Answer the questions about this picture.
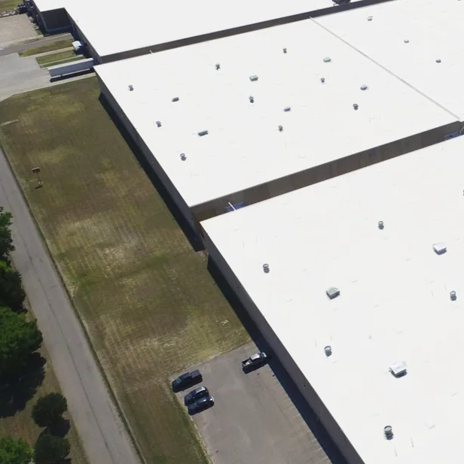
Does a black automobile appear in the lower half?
Yes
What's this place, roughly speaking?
industrial area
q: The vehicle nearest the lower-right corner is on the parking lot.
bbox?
[239,353,269,372]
